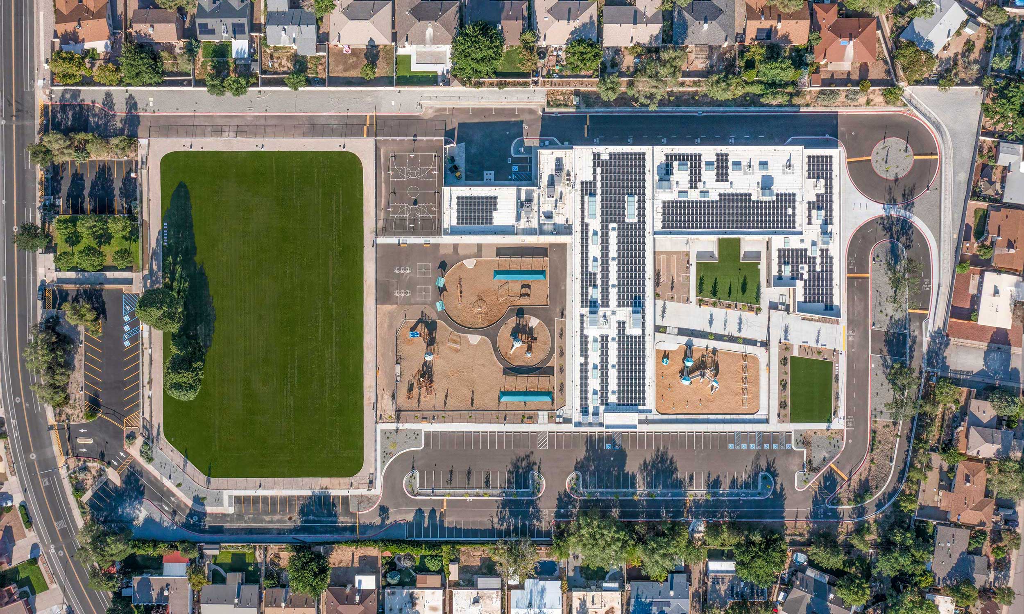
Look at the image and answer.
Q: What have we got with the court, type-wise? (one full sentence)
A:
It looks like the court is a basketball court.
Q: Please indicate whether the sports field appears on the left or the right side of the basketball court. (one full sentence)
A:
Looking at the photo, the sports field lies to the left of the basketball court.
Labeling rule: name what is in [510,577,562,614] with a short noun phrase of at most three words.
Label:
house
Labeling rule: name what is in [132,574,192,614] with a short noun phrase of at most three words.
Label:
house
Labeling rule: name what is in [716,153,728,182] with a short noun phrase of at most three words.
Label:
solar array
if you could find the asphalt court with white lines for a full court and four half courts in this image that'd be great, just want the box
[376,139,443,236]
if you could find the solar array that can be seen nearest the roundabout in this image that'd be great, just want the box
[807,155,831,227]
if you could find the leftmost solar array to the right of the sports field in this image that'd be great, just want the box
[457,197,496,225]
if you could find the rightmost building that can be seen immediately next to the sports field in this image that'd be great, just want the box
[442,146,841,435]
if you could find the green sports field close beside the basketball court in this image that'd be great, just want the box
[160,151,364,478]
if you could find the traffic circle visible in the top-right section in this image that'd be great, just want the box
[871,137,914,180]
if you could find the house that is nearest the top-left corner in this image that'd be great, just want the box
[52,0,115,45]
